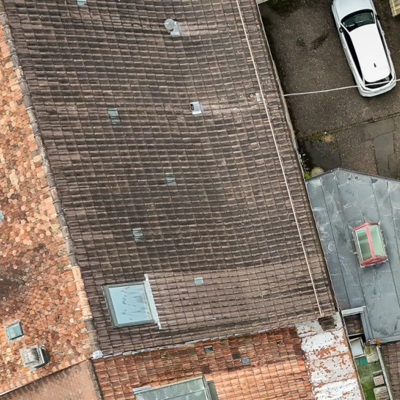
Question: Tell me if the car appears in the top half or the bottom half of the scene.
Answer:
top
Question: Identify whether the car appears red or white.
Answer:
white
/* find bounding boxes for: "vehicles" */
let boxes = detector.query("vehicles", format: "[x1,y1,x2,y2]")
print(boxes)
[334,0,397,98]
